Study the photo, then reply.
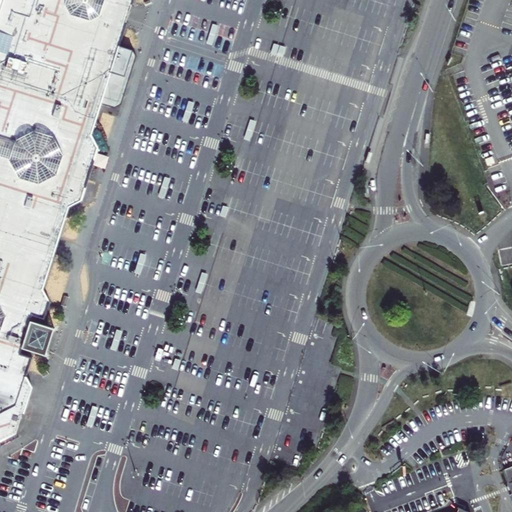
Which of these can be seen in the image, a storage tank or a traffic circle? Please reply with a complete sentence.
The one in the frame is a traffic circle.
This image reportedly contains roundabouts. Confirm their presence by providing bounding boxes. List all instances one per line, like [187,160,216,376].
[346,221,496,371]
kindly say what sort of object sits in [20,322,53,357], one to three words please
building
